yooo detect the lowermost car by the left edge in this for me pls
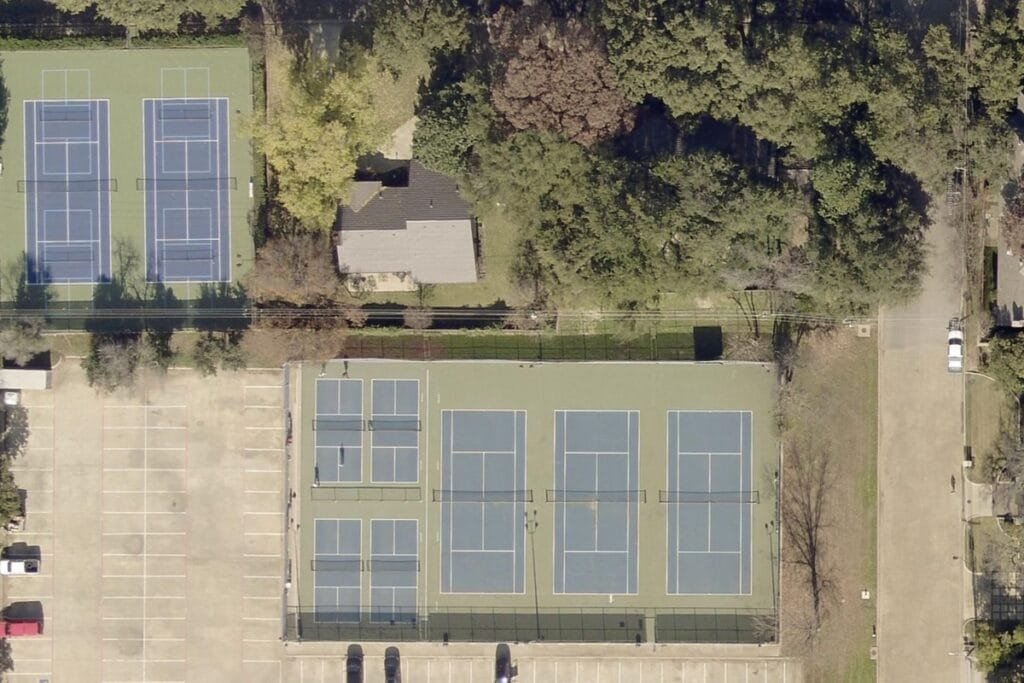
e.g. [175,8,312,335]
[3,619,42,637]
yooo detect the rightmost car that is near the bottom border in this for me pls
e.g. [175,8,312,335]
[494,653,518,683]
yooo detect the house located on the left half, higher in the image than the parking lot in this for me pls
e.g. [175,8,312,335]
[332,158,476,283]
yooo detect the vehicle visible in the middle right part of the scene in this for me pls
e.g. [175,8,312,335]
[947,330,966,373]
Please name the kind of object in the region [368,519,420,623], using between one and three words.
sports court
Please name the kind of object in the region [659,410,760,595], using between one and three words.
tennis court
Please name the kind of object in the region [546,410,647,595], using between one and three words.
tennis court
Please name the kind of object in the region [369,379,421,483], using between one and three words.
sports court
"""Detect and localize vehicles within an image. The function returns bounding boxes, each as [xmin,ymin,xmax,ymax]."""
[0,558,41,576]
[3,619,42,637]
[494,653,518,683]
[947,330,966,373]
[3,390,16,407]
[345,654,363,683]
[384,654,401,683]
